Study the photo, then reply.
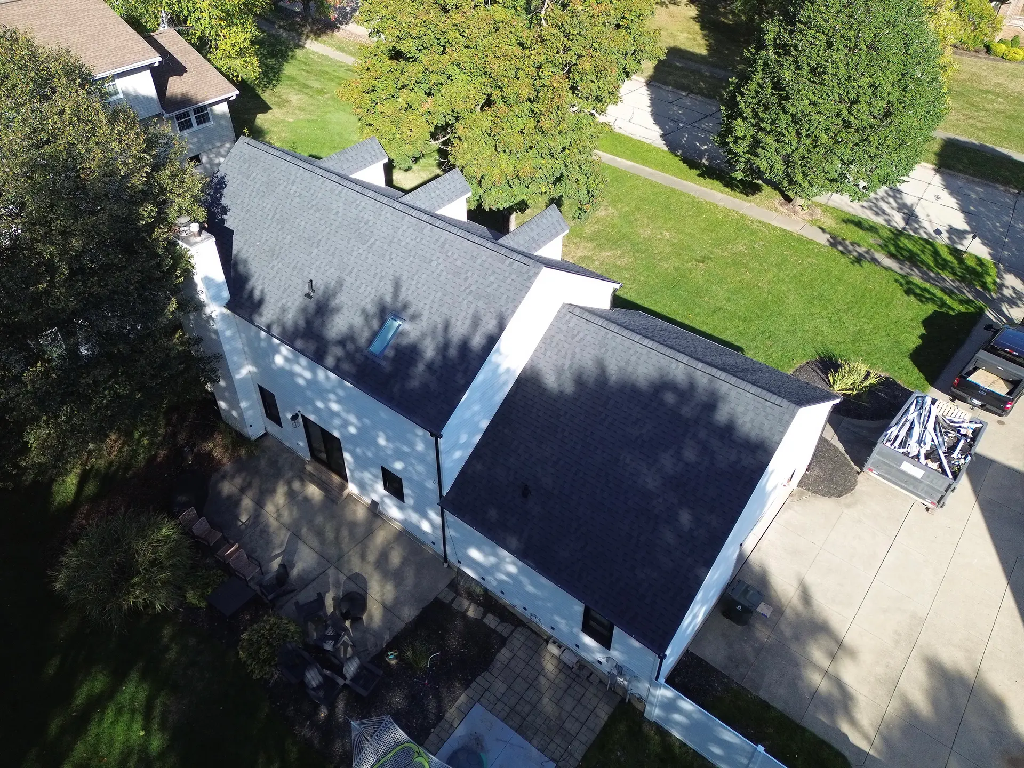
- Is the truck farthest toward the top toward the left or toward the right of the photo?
right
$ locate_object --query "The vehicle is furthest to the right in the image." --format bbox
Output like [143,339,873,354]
[947,318,1024,419]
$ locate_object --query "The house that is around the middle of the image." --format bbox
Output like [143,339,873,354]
[166,136,842,715]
